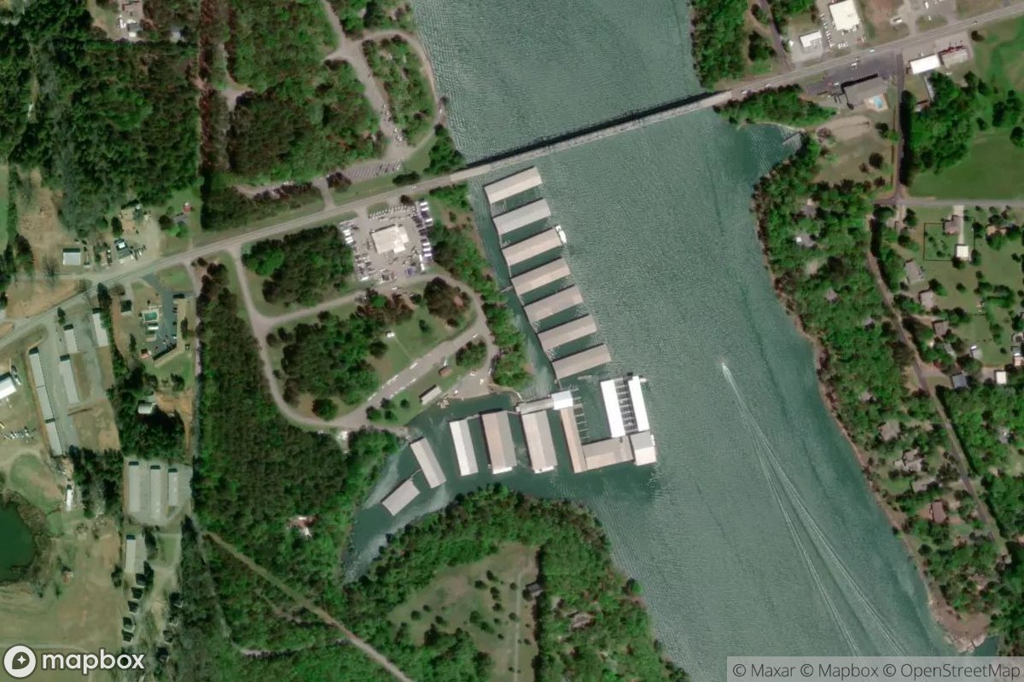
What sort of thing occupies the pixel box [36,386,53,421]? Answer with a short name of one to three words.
shed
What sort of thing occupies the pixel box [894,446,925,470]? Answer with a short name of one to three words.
house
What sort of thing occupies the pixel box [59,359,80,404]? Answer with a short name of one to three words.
shed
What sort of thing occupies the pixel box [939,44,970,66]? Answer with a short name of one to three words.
building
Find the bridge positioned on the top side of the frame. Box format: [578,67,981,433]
[459,91,729,178]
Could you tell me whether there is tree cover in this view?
Yes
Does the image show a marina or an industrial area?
marina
